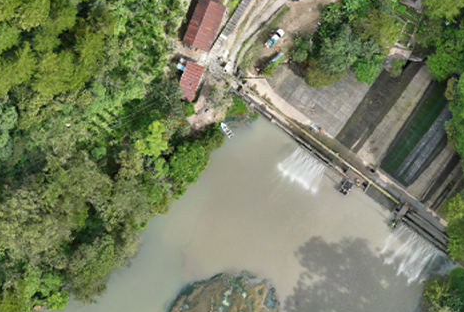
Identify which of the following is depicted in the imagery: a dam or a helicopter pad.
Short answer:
dam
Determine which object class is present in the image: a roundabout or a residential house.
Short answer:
residential house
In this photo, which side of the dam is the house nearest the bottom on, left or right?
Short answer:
on the left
